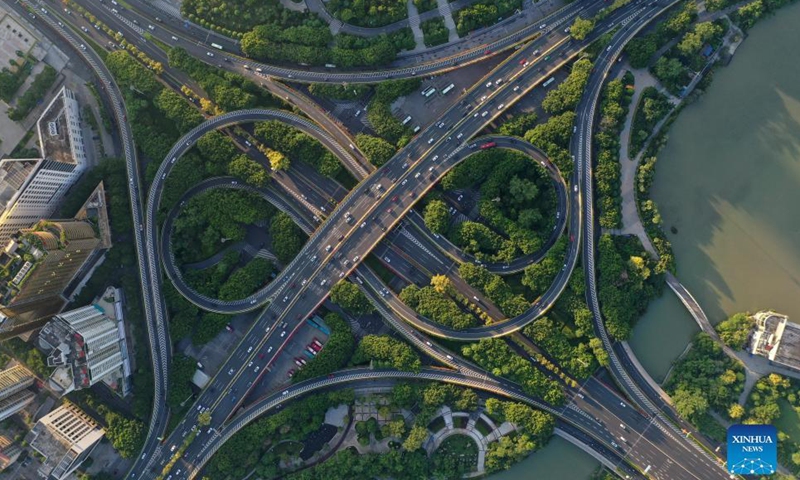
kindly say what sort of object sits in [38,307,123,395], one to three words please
building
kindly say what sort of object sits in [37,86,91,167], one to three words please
building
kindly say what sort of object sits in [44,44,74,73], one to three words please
shed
